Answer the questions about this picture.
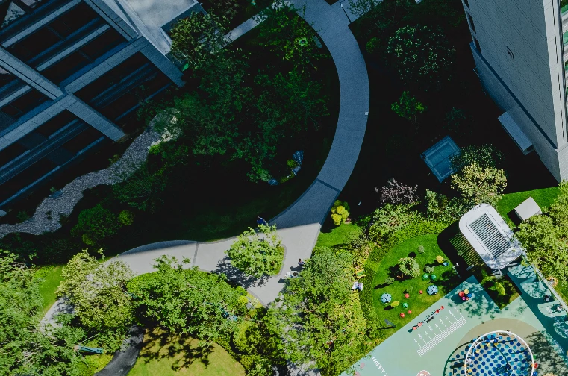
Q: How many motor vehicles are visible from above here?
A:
0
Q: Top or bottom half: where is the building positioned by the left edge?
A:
top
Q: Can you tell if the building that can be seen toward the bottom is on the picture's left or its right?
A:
right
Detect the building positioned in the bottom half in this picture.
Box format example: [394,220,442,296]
[460,201,526,273]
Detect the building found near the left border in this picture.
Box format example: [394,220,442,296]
[0,0,183,203]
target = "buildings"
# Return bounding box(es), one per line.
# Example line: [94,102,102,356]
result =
[451,0,568,183]
[460,201,526,273]
[0,0,183,203]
